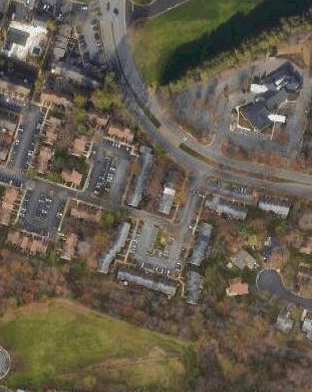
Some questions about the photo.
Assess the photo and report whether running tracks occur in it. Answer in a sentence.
No, there is no running track in the image.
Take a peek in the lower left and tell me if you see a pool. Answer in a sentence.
No, in the lower left there is no pool.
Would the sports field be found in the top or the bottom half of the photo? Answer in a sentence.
The sports field is in the bottom half of the image.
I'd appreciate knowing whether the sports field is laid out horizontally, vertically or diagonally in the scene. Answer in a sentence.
In this picture, the sports field is oriented horizontally.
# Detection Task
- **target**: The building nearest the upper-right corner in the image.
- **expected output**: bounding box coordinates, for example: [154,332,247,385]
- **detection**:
[242,61,301,131]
